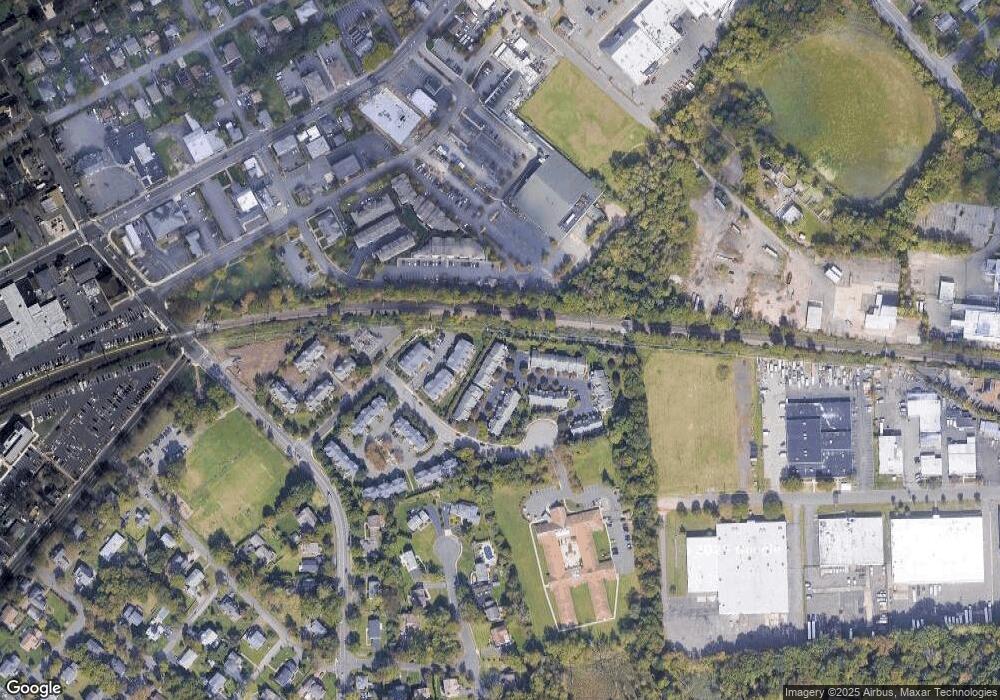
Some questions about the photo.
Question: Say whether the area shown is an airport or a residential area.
residential area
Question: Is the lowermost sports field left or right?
left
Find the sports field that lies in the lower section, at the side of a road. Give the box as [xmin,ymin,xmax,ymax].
[181,408,292,540]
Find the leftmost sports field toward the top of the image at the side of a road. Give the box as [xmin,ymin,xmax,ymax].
[519,59,654,174]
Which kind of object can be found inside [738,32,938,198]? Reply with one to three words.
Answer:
sports field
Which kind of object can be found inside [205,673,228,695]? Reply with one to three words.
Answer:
house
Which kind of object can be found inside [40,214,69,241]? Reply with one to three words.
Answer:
building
